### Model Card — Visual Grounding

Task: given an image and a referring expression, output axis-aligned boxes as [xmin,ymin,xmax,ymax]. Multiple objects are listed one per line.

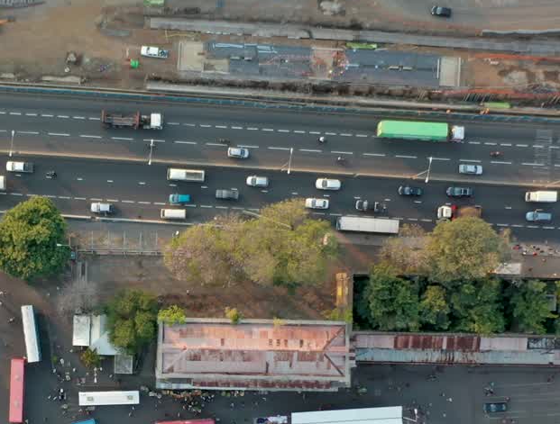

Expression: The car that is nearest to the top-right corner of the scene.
[426,6,453,19]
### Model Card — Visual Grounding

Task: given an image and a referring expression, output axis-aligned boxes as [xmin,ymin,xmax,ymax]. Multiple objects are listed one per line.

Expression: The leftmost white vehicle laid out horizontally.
[6,161,35,173]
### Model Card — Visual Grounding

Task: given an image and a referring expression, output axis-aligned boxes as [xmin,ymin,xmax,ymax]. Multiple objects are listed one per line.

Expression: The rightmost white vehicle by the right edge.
[521,189,559,206]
